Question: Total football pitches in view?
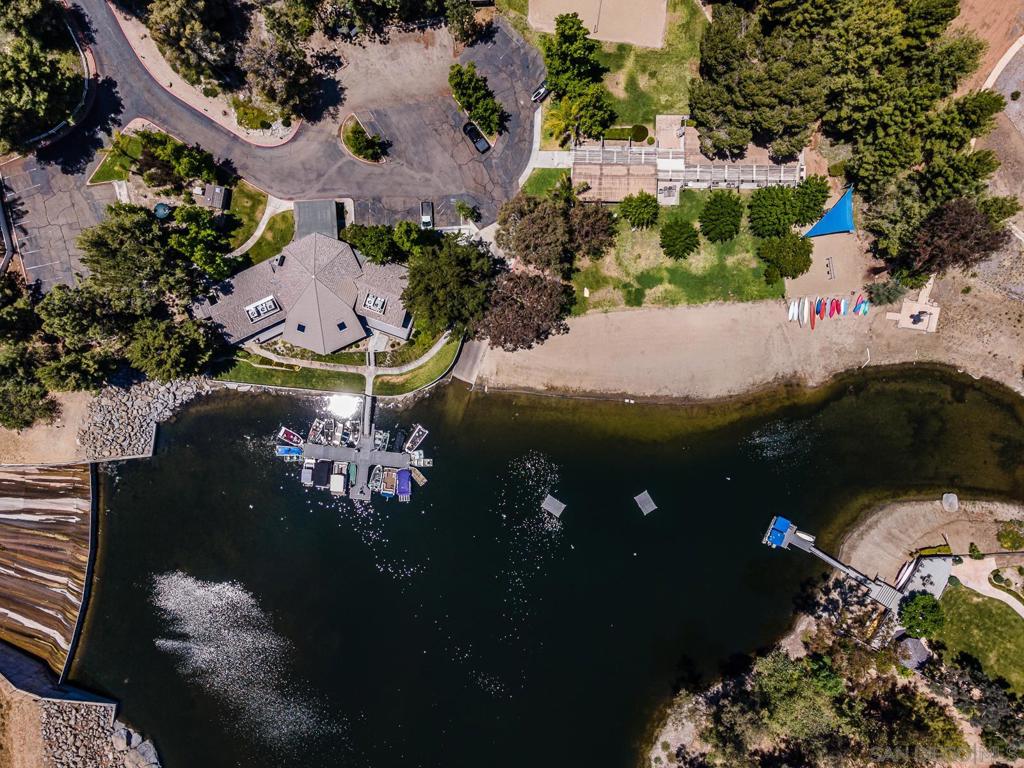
none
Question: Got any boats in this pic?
Yes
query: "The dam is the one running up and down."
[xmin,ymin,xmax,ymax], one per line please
[0,455,98,693]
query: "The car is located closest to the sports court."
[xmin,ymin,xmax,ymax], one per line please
[529,80,547,102]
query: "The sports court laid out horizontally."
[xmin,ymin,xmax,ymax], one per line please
[528,0,666,48]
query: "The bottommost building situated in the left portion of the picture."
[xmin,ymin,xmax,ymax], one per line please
[193,200,415,355]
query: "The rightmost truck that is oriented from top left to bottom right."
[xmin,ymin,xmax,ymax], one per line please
[463,119,490,154]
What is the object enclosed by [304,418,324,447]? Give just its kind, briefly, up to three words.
boat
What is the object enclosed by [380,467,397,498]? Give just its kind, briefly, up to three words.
boat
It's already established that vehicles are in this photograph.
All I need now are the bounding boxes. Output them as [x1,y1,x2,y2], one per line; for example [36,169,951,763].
[529,80,547,102]
[331,20,359,39]
[419,198,433,231]
[463,119,490,154]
